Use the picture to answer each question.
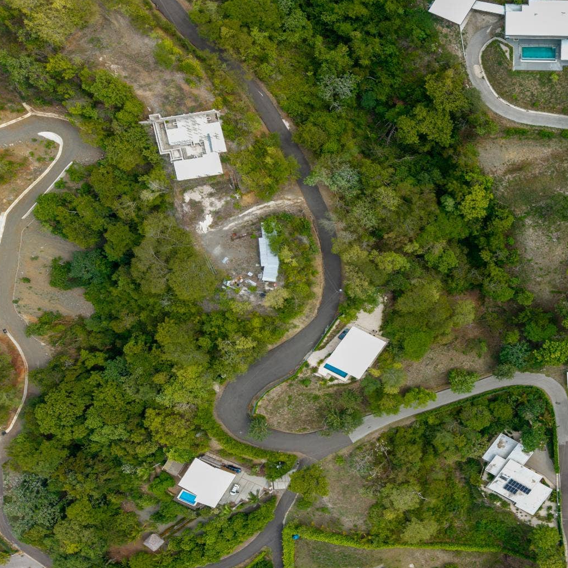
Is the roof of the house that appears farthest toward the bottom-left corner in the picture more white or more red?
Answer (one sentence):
In this view, the roof of the house that appears farthest toward the bottom-left corner is white.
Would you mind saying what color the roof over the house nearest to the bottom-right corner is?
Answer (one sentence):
The color of the roof on the house nearest to the bottom-right corner is white.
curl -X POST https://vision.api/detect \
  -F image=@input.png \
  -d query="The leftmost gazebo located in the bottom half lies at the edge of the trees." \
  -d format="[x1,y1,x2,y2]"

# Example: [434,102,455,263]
[143,531,168,550]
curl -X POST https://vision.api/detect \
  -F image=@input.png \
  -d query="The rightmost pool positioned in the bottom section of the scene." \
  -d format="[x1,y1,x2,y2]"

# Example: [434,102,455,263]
[323,363,349,379]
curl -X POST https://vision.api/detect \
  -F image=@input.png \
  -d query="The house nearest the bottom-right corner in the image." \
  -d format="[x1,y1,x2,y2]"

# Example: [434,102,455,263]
[484,433,552,515]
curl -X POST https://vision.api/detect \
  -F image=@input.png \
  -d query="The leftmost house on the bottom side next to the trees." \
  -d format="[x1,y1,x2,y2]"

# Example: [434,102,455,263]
[173,457,236,512]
